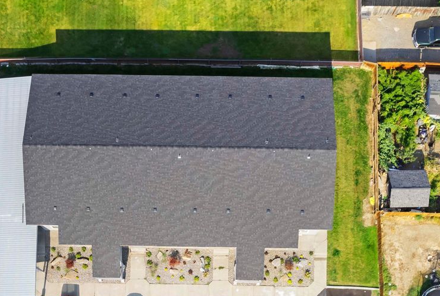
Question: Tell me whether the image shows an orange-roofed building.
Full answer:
No, I can see no orange-roofed building in this picture.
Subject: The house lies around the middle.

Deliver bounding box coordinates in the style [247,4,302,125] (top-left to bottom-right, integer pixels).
[21,74,337,284]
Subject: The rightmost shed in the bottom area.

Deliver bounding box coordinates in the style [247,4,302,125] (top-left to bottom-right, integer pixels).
[386,169,430,210]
